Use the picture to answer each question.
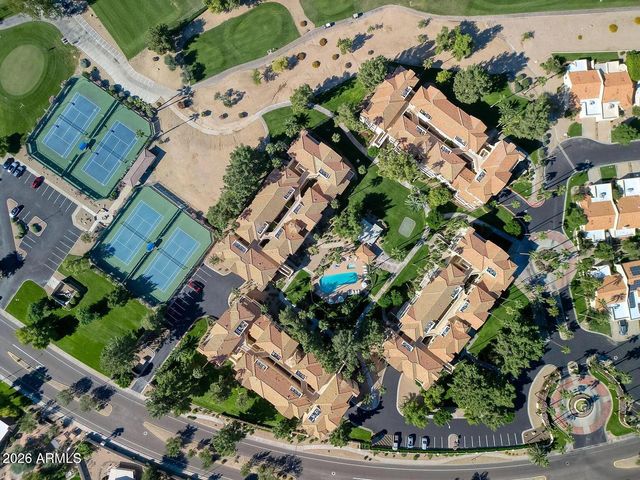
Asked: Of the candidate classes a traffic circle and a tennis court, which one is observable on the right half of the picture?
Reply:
traffic circle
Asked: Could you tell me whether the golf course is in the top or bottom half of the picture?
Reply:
top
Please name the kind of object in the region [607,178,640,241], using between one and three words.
house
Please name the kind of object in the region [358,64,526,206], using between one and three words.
building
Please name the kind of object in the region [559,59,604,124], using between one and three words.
house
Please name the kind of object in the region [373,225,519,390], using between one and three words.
building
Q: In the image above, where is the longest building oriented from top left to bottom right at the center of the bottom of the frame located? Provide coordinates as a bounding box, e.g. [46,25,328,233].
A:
[196,299,361,442]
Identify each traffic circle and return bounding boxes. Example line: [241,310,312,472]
[551,376,613,436]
